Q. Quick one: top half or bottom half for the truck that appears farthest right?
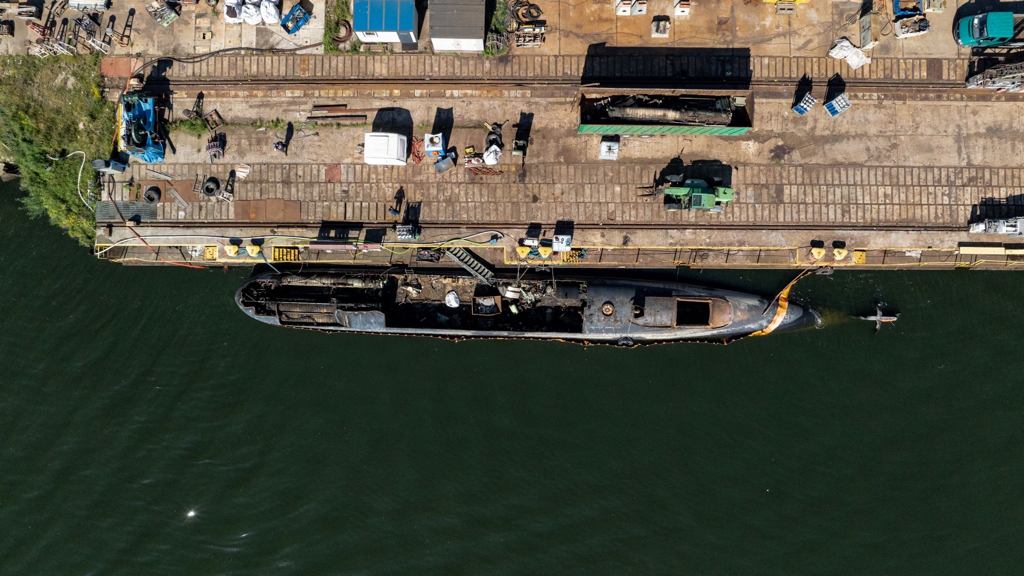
top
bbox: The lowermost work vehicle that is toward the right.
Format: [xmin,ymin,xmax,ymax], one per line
[636,175,734,212]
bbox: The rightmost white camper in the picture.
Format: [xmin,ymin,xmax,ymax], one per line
[354,133,408,165]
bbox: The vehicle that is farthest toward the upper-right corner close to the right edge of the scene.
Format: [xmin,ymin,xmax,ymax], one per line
[952,11,1024,50]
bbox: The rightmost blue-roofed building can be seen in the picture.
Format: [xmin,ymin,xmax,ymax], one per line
[353,0,417,42]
